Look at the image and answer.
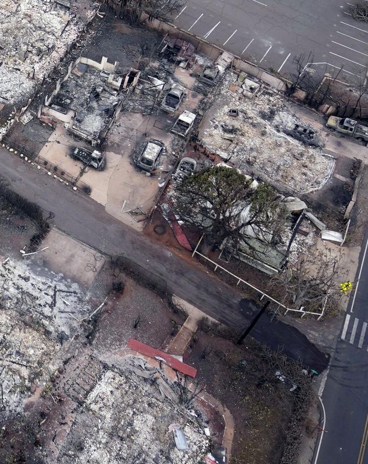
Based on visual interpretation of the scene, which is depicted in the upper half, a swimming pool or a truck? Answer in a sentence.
The one visible in the upper half is a truck.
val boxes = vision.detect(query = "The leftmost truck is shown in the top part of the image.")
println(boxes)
[62,140,115,174]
